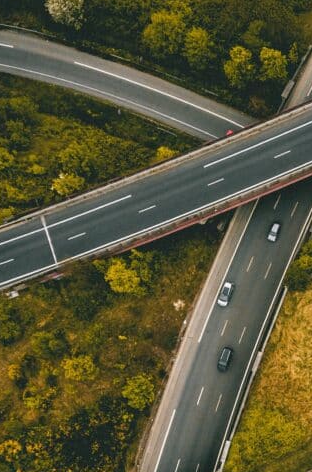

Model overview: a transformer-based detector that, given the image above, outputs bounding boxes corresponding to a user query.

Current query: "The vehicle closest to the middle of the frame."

[217,281,234,307]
